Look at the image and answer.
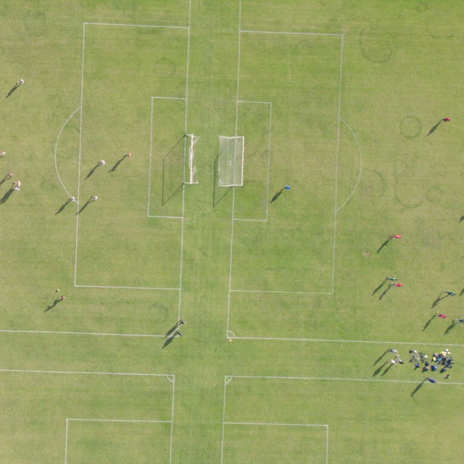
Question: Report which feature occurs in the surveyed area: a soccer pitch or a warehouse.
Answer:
soccer pitch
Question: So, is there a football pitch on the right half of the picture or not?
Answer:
Yes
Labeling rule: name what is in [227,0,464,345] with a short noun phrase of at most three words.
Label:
soccer field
